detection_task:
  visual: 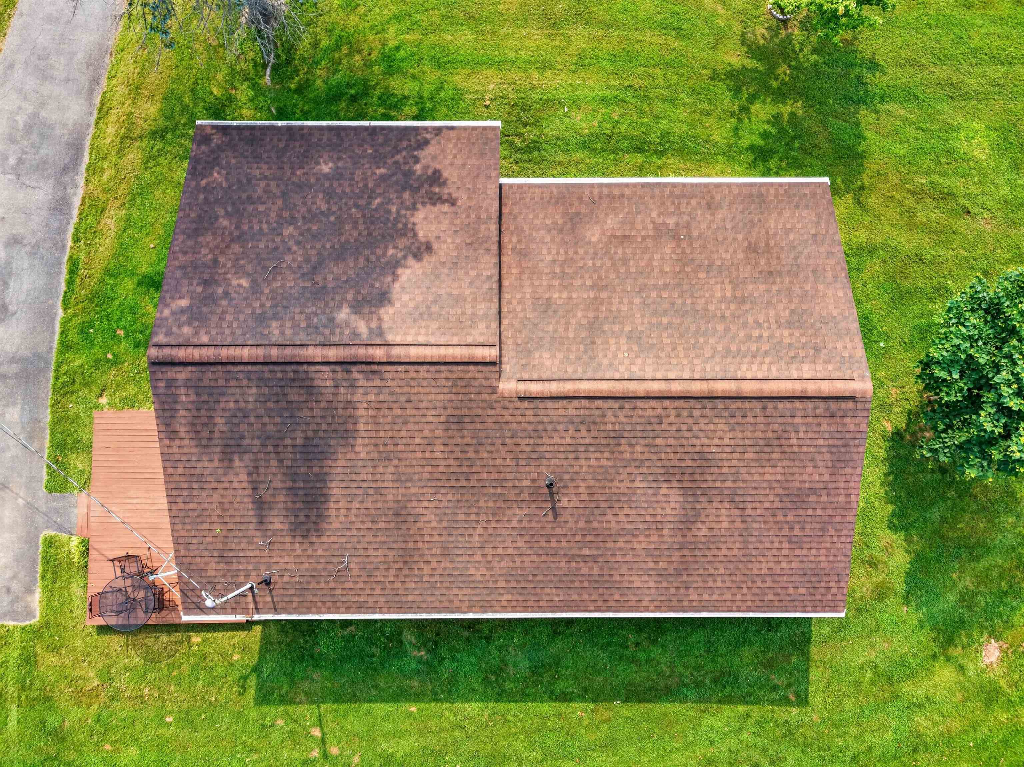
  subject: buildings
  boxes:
[145,120,874,619]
